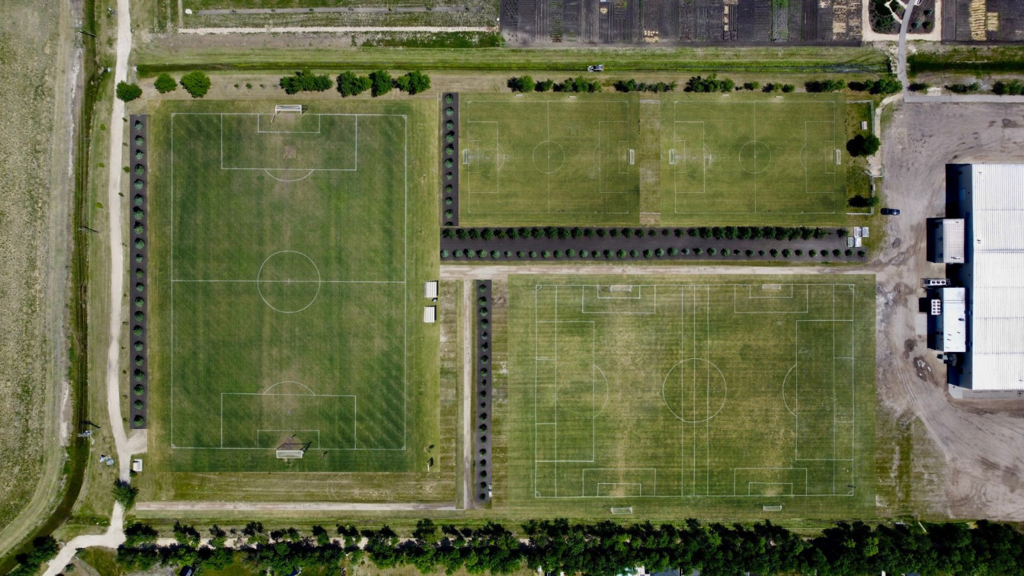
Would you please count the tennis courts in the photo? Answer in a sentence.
There are no tennis courts in the image.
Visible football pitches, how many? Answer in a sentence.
My tally gives 4 football pitches in this view.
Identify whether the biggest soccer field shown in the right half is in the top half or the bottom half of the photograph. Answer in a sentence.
You can find the biggest soccer field shown in the right half in the bottom half.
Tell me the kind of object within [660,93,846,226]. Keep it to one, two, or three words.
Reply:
soccer field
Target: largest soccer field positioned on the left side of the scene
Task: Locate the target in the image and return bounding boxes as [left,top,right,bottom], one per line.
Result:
[148,100,439,472]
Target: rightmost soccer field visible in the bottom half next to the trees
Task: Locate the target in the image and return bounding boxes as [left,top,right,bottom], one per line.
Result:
[508,275,876,517]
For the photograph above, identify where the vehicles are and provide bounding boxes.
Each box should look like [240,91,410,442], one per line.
[588,64,604,72]
[488,484,495,498]
[934,355,957,364]
[882,207,901,215]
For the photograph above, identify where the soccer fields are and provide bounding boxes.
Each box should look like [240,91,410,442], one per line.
[508,275,876,517]
[660,93,846,226]
[148,100,439,472]
[460,93,639,226]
